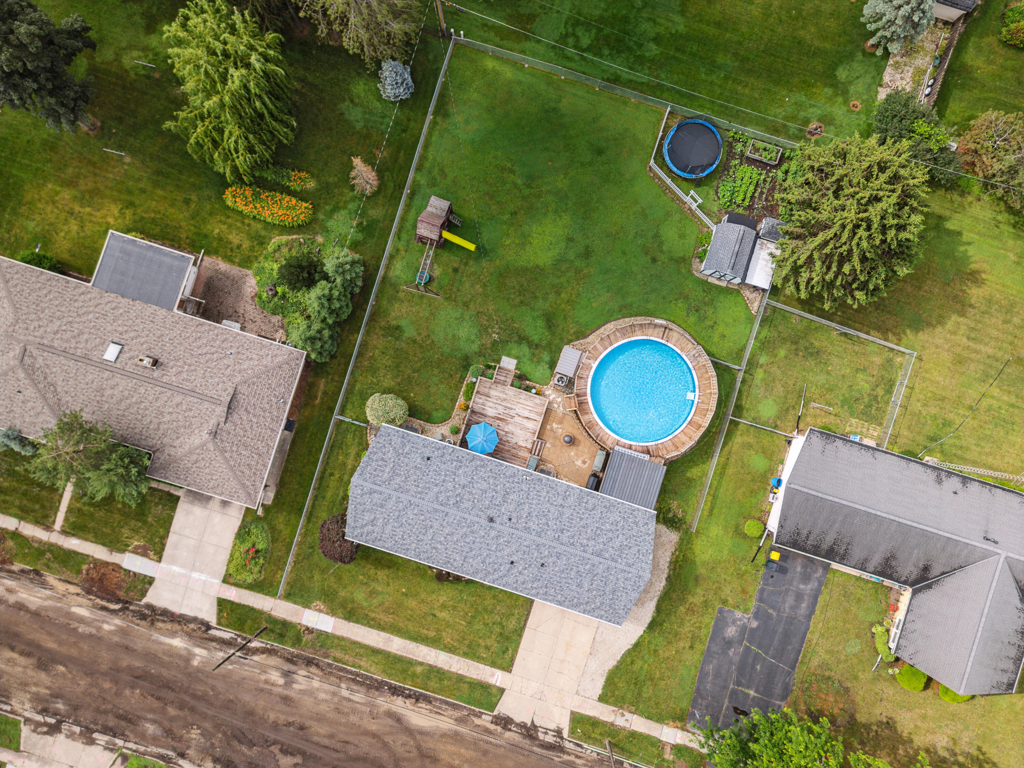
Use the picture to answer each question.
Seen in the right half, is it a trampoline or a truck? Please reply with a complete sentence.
What appears in the right half is a trampoline.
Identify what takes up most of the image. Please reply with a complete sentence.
The largest share of the image is taken up by grass.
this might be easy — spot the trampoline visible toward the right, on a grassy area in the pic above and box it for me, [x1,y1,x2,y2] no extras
[662,113,727,186]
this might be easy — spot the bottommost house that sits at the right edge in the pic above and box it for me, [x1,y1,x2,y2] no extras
[763,425,1024,696]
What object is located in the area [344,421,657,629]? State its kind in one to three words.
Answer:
house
